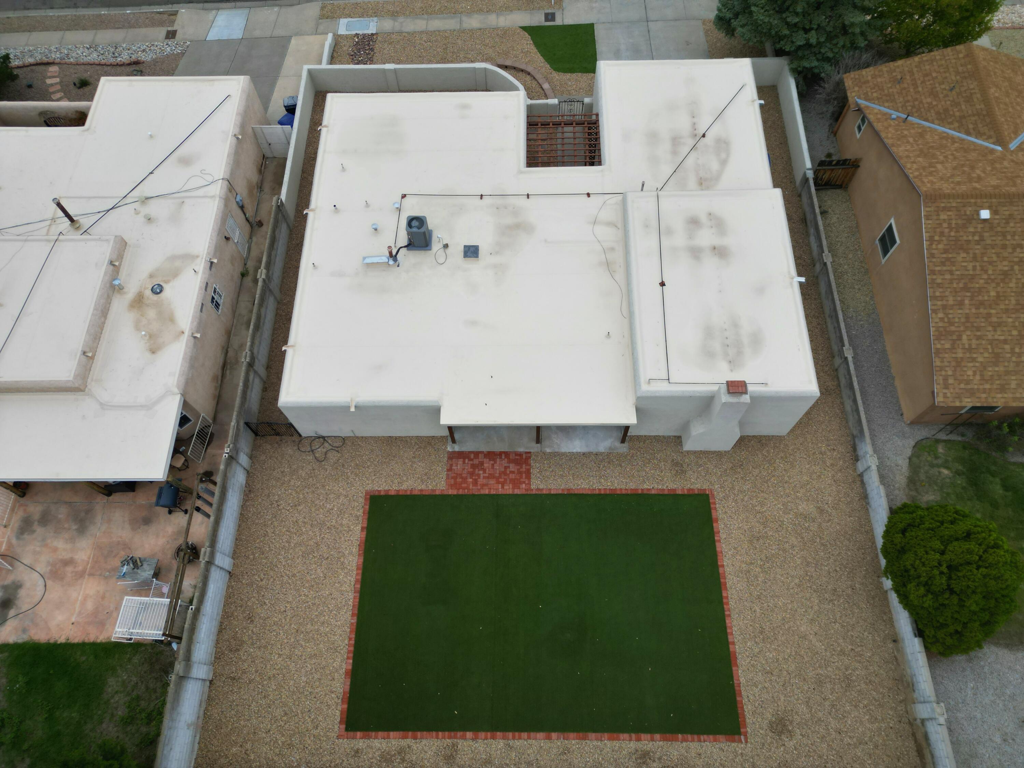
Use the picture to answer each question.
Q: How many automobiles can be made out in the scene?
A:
0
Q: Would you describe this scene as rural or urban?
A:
urban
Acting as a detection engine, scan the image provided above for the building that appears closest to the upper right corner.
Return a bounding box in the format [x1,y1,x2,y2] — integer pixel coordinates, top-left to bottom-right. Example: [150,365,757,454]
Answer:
[832,42,1024,425]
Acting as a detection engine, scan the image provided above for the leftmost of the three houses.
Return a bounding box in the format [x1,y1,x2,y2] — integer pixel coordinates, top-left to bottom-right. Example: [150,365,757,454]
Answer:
[0,78,271,499]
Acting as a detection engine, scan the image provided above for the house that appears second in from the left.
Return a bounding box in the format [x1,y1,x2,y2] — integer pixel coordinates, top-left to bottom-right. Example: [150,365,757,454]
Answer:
[278,58,820,450]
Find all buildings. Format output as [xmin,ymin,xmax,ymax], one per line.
[278,58,820,450]
[832,42,1024,425]
[0,78,271,499]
